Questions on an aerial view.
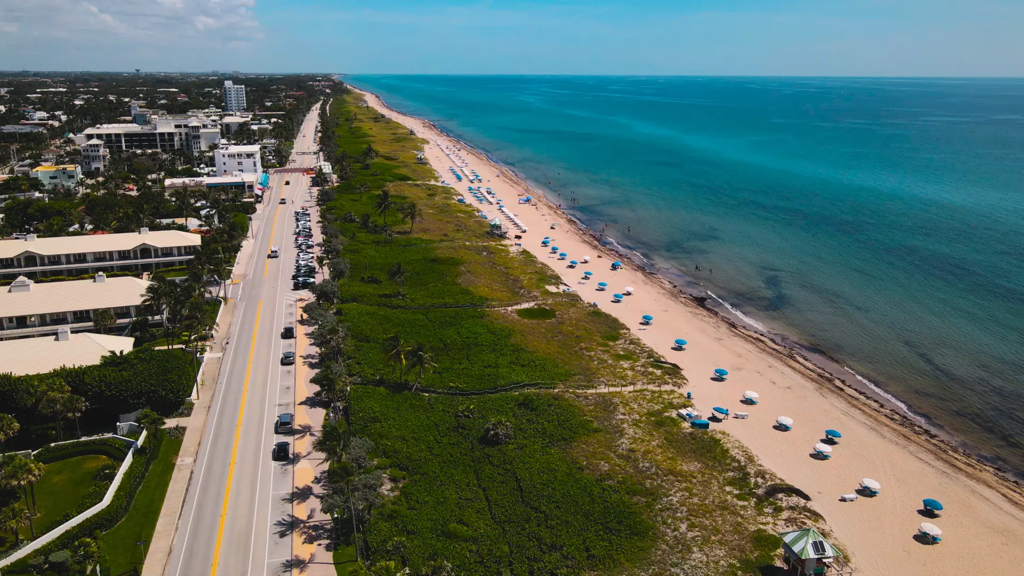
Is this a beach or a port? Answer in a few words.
beach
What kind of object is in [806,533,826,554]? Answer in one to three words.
solar panel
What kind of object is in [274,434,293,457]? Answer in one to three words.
car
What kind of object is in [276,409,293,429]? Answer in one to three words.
car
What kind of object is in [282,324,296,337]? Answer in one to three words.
vehicle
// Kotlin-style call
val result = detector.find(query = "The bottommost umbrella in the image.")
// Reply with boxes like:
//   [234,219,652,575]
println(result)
[919,524,943,546]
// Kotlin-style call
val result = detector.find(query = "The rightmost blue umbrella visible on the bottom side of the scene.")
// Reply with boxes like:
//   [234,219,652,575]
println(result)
[922,500,944,519]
